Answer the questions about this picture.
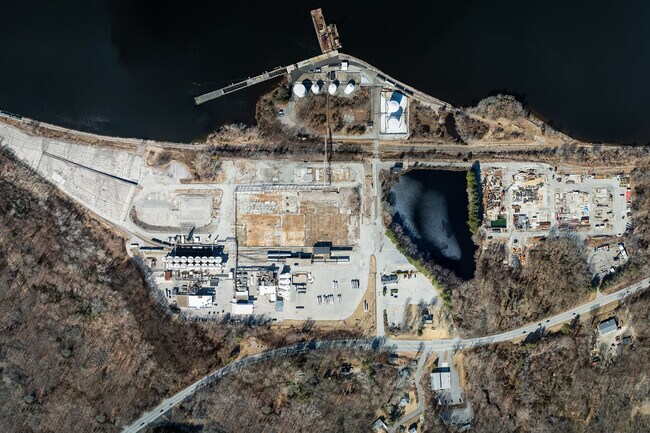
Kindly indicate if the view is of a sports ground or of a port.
port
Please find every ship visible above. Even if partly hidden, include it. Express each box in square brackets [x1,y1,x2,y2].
[327,24,342,50]
[310,9,331,52]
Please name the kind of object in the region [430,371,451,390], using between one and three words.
building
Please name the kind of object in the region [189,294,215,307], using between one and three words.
building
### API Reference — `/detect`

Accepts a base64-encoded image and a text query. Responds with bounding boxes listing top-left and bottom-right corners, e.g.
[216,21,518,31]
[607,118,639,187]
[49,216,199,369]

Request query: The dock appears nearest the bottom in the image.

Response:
[194,65,292,104]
